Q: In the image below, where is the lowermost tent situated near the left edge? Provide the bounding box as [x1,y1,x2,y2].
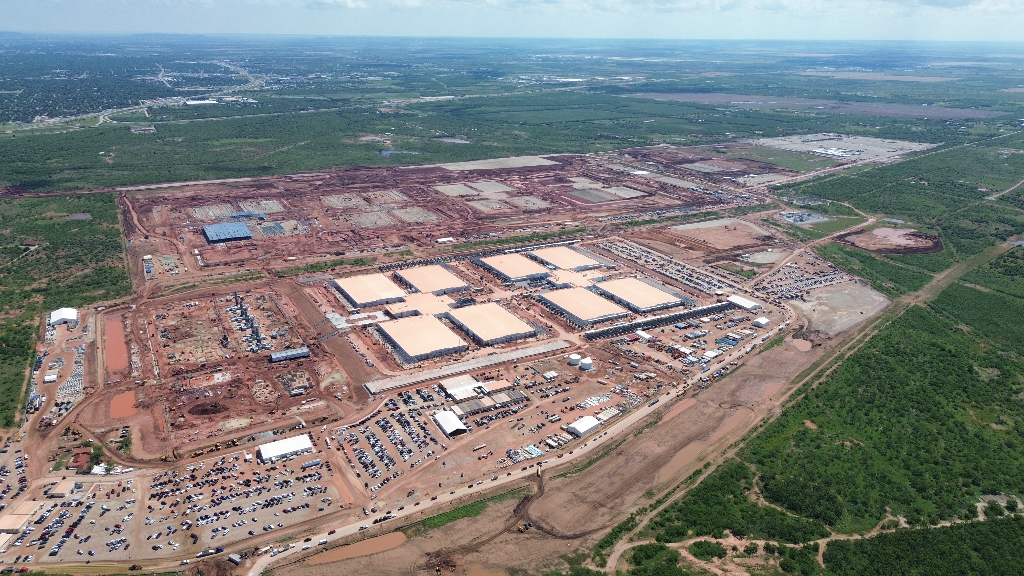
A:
[50,306,80,326]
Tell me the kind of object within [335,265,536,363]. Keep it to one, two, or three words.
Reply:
building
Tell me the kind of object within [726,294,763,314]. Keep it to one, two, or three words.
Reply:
tent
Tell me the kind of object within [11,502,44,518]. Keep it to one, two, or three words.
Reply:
building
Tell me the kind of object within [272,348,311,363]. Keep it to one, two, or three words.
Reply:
shed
